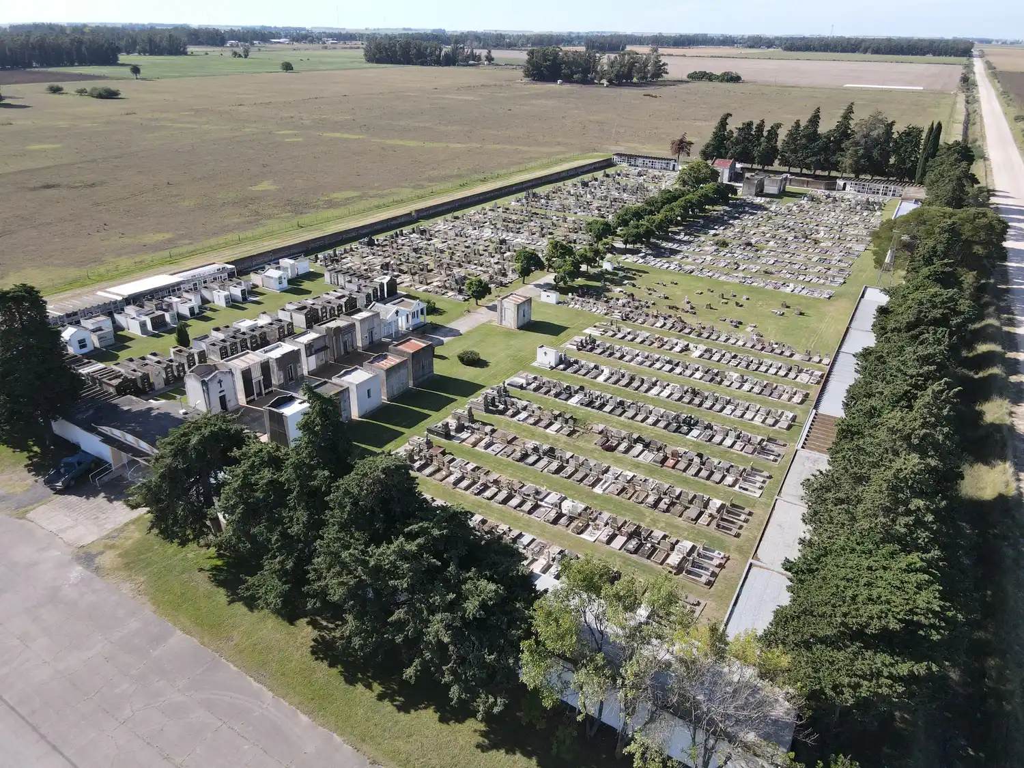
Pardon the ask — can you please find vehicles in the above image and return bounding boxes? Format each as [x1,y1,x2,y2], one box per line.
[42,452,100,492]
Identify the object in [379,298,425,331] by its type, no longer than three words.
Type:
building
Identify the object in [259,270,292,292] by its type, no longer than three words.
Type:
building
